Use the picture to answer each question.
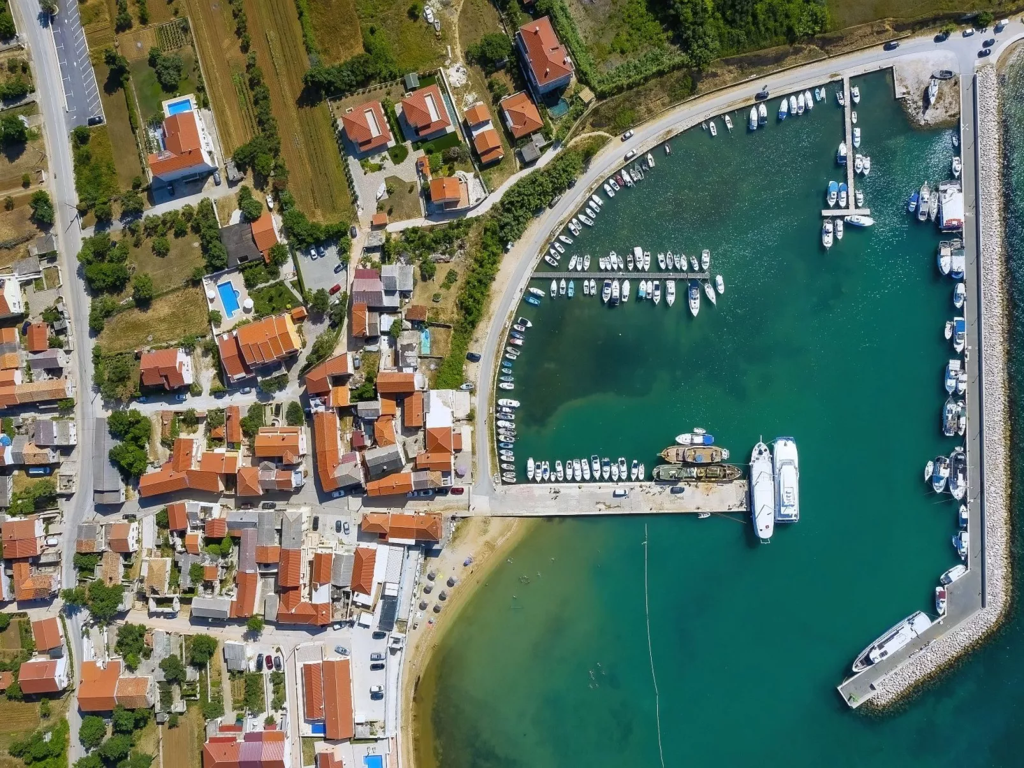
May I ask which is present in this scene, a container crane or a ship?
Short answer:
ship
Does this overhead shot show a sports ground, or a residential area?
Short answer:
residential area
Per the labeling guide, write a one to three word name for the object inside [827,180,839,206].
boat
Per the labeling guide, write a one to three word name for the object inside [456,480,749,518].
pier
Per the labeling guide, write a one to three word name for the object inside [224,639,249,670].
house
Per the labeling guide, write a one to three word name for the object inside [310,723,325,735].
swimming pool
